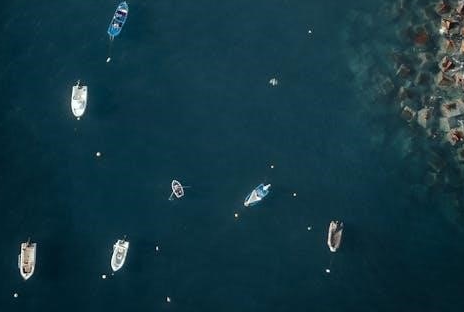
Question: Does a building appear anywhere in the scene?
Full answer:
No, there's no building here.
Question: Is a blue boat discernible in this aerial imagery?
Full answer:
Yes, you can see a blue boat in this photo.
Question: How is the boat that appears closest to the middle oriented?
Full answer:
From this overhead view, the boat that appears closest to the middle appears to run on a diagonal.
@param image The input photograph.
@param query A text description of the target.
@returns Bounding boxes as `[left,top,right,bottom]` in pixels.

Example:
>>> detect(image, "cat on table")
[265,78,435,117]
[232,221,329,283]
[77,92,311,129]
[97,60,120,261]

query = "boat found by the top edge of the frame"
[107,2,127,41]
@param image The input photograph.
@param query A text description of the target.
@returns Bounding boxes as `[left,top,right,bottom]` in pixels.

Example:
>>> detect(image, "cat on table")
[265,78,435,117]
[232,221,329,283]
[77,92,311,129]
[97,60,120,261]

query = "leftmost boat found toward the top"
[71,80,88,117]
